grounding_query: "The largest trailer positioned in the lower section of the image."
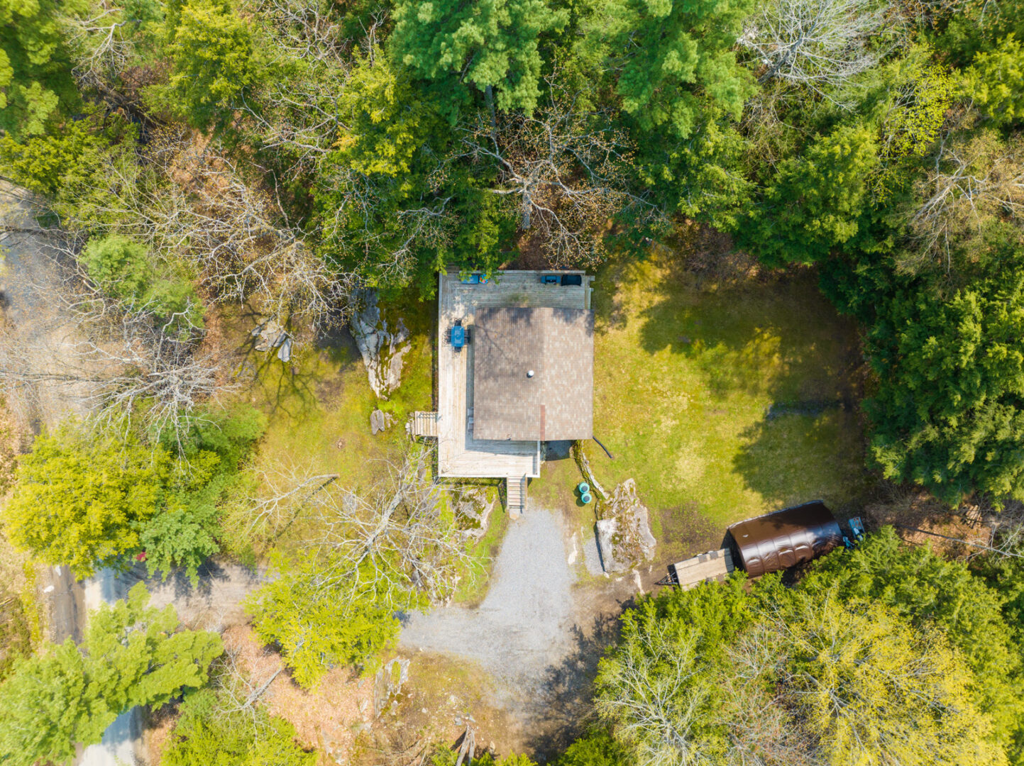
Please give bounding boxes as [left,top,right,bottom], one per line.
[656,548,734,594]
